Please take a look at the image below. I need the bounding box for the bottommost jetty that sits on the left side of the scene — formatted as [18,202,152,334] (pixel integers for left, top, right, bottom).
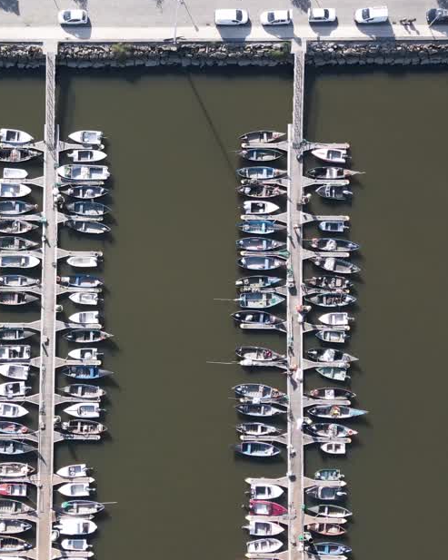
[0,125,104,560]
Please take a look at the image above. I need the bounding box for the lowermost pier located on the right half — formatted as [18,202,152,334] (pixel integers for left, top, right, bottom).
[239,125,350,560]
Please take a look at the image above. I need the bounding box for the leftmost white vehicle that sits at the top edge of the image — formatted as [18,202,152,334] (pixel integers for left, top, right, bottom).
[59,9,90,26]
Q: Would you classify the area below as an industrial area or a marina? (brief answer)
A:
marina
